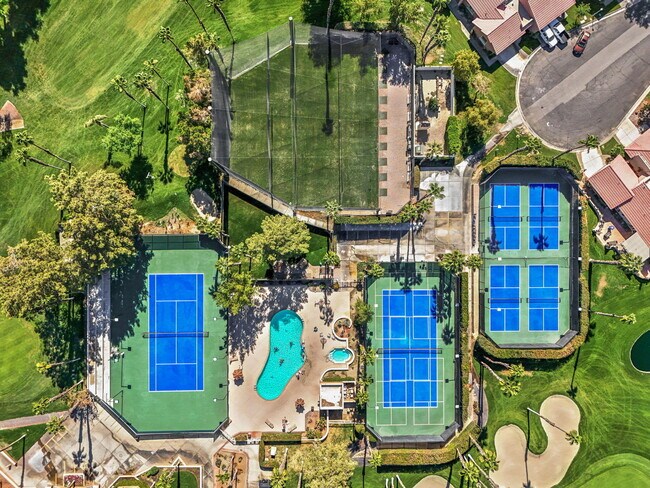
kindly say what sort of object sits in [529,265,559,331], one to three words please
sports court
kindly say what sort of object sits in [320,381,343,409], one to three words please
building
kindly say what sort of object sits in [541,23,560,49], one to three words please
car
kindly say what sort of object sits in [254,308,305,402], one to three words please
swimming pool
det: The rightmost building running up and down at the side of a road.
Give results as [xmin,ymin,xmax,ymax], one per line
[581,108,650,261]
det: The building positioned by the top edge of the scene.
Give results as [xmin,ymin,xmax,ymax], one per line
[448,0,577,58]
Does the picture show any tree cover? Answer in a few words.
Yes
